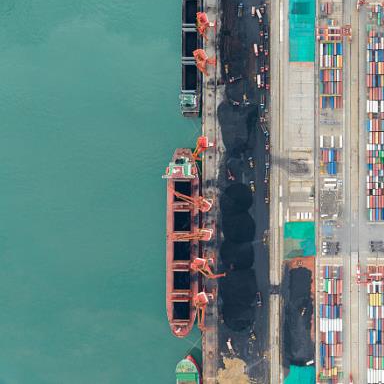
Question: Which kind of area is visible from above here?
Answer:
port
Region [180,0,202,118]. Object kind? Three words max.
ship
